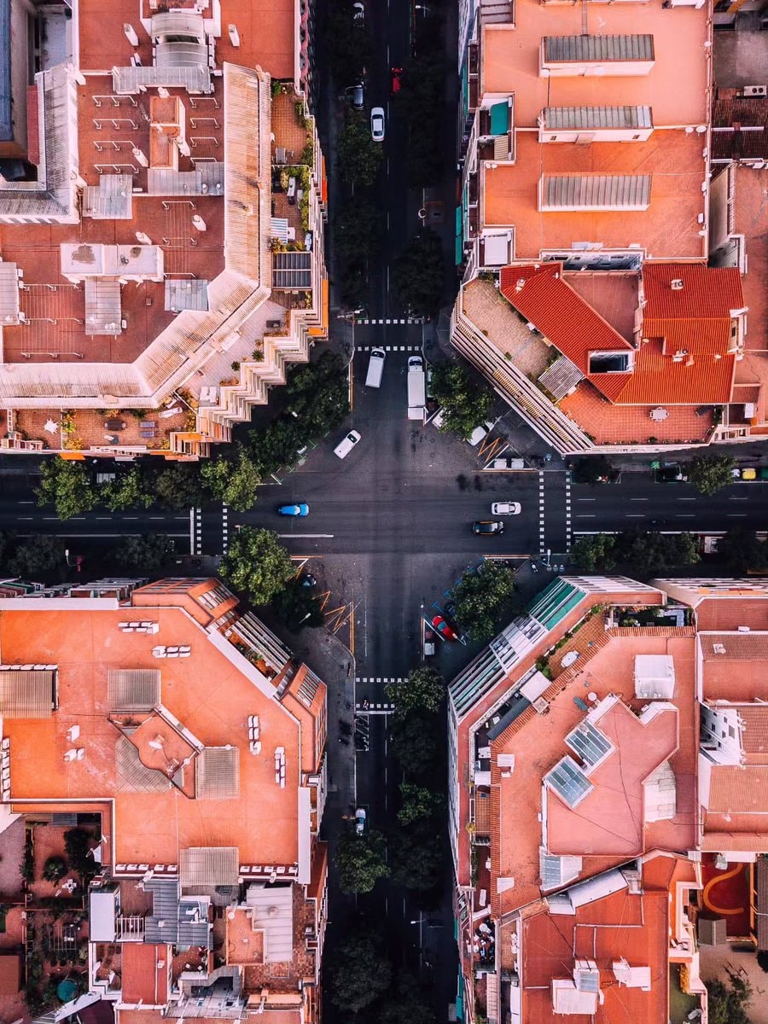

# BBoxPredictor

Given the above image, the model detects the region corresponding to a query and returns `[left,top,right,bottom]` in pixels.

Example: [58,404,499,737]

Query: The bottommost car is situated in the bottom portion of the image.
[353,805,368,834]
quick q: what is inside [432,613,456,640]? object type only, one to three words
car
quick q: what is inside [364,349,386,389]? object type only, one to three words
vehicle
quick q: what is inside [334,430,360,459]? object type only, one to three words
vehicle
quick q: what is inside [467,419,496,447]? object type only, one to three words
van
